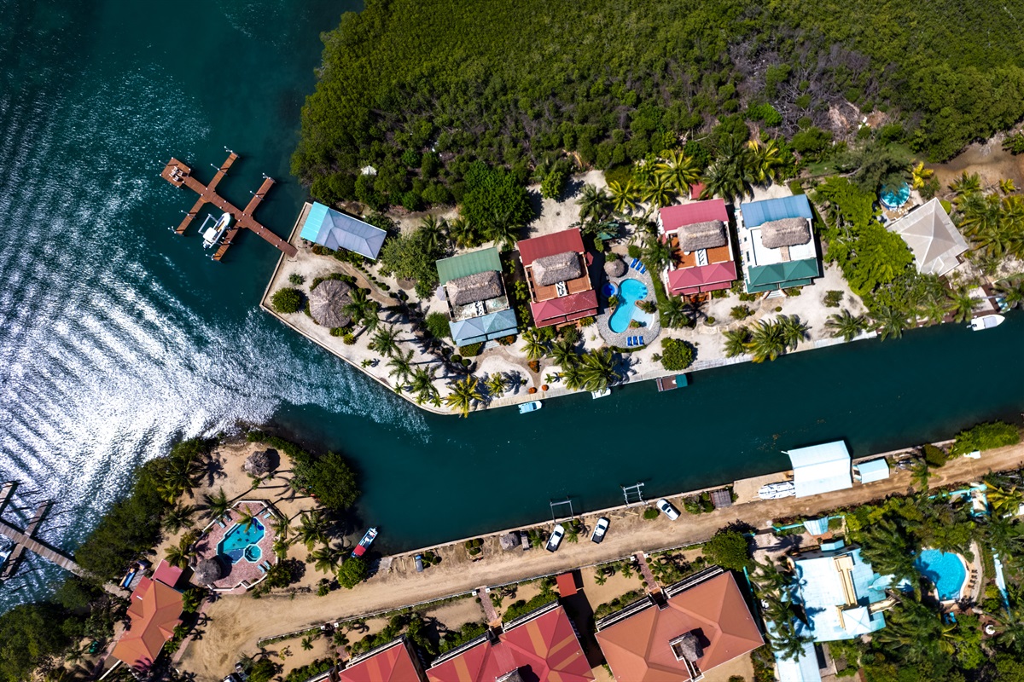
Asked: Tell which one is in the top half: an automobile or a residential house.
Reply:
residential house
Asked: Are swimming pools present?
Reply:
Yes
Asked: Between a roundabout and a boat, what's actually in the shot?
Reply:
boat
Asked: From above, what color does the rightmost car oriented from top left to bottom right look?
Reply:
white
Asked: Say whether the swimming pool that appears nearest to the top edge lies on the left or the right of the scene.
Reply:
right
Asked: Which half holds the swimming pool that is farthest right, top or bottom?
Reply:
bottom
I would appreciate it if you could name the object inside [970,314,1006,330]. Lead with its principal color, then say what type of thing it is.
white boat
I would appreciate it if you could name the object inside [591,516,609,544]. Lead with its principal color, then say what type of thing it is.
white vehicle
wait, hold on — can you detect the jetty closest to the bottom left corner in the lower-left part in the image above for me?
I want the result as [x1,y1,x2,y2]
[0,475,85,585]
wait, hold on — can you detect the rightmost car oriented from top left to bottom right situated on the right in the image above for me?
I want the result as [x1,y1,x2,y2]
[656,496,680,522]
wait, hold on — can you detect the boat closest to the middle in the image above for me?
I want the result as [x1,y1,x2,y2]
[515,402,542,414]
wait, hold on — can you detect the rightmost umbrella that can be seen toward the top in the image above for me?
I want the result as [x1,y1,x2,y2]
[604,258,625,279]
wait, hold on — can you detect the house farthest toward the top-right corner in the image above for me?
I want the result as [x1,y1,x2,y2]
[885,197,968,277]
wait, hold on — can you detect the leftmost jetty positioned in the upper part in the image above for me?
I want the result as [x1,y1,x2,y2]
[159,146,298,262]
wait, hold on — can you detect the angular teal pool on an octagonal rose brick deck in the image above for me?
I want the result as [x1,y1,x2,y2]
[191,504,279,589]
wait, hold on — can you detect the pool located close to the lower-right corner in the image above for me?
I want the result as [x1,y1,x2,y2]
[911,543,980,611]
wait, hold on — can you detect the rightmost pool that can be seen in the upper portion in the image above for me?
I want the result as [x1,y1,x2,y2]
[878,179,912,210]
